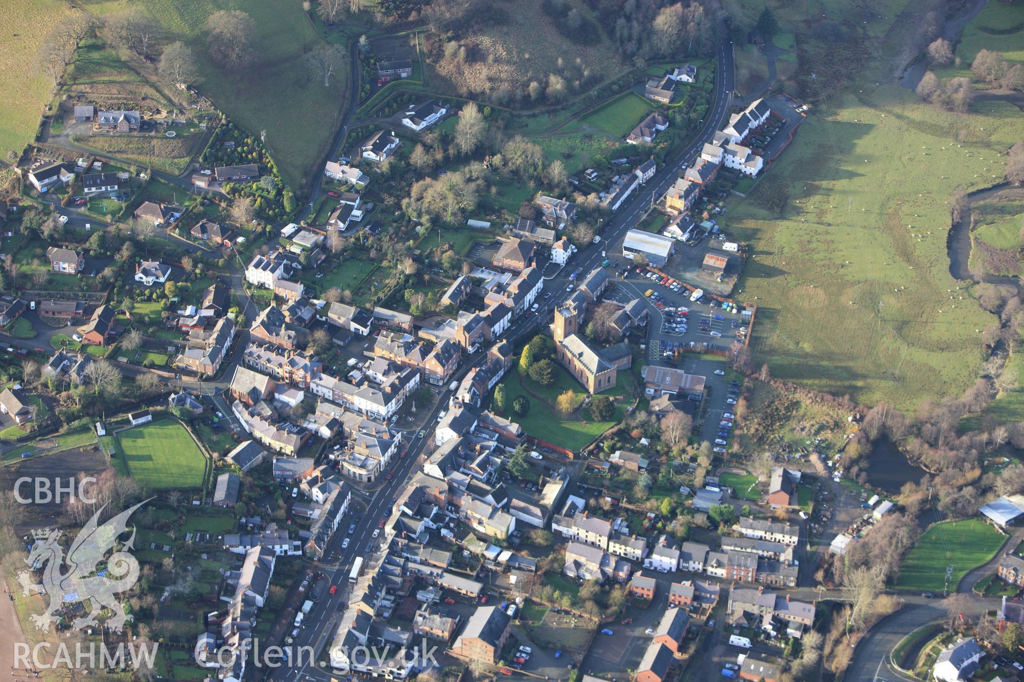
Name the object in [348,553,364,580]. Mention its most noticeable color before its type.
white vehicle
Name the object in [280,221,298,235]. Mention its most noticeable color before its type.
white vehicle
